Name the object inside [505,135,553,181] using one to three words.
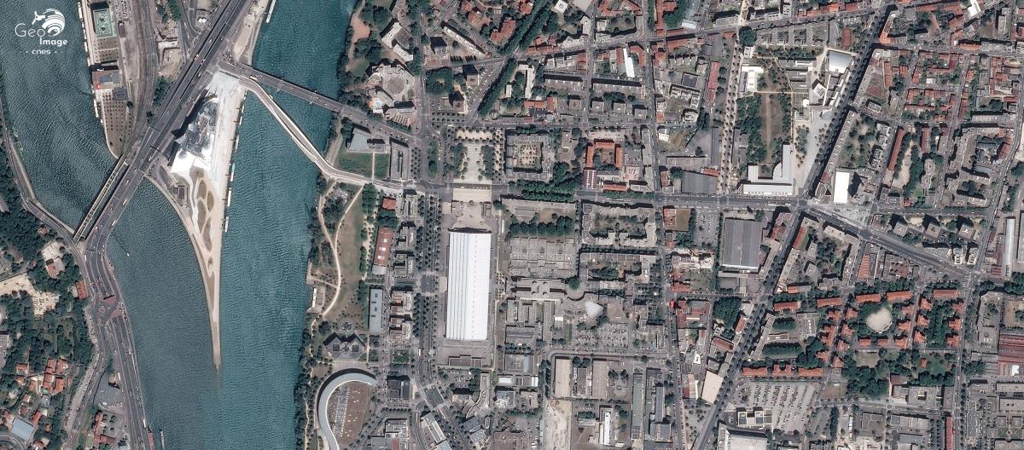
building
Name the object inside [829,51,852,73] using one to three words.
building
